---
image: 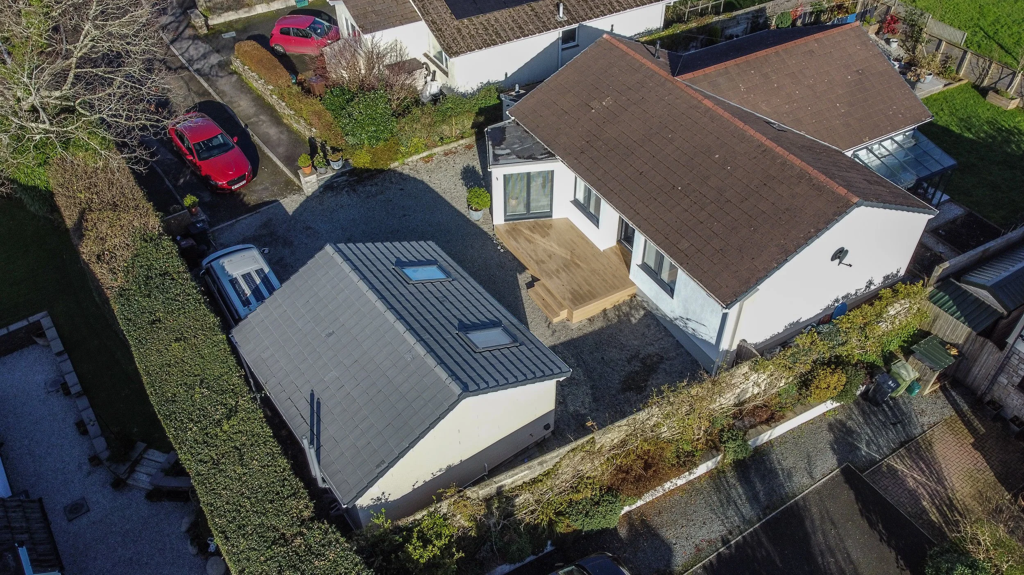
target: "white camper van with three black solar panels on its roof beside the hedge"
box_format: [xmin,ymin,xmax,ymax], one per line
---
[192,252,281,331]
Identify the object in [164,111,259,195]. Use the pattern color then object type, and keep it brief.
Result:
red car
